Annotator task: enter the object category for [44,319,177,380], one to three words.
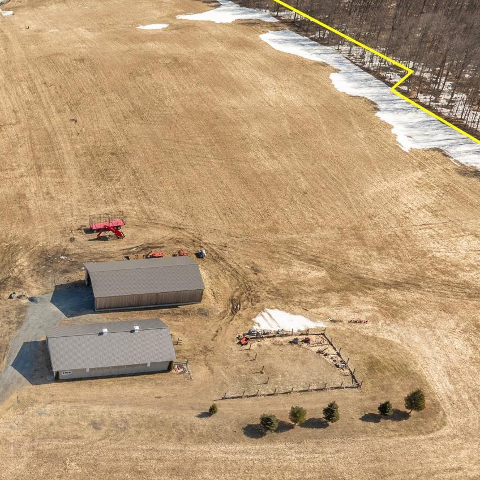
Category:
barn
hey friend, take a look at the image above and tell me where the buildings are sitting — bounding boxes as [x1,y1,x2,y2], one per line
[84,257,206,311]
[44,319,177,380]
